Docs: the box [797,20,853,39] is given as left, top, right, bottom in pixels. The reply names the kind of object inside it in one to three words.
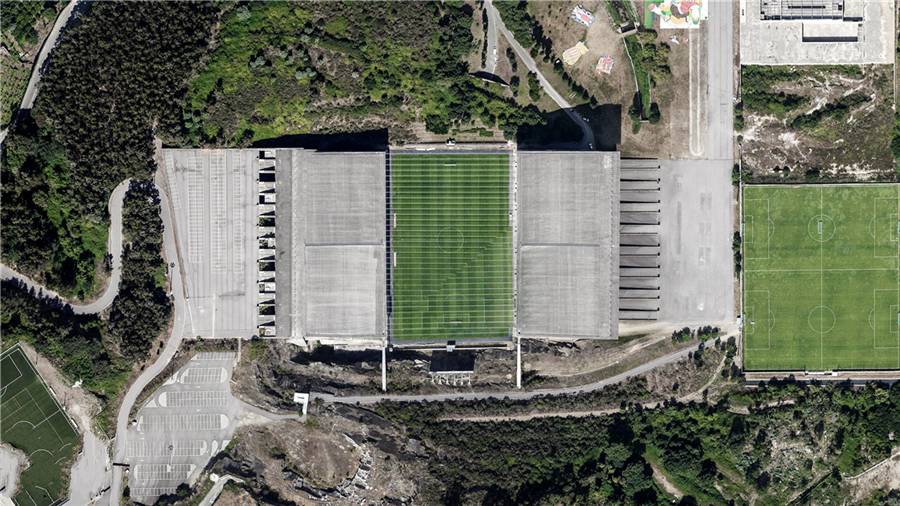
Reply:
building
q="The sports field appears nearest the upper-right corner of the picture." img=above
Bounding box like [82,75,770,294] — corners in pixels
[743,184,900,270]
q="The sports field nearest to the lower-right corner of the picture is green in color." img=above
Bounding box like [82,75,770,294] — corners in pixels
[744,269,900,371]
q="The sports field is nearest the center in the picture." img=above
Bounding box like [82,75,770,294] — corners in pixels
[393,152,509,340]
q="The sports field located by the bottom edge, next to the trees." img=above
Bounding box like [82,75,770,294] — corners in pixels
[0,345,80,506]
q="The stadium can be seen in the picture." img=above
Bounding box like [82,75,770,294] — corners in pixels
[254,147,661,391]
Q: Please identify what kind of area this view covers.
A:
sports ground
